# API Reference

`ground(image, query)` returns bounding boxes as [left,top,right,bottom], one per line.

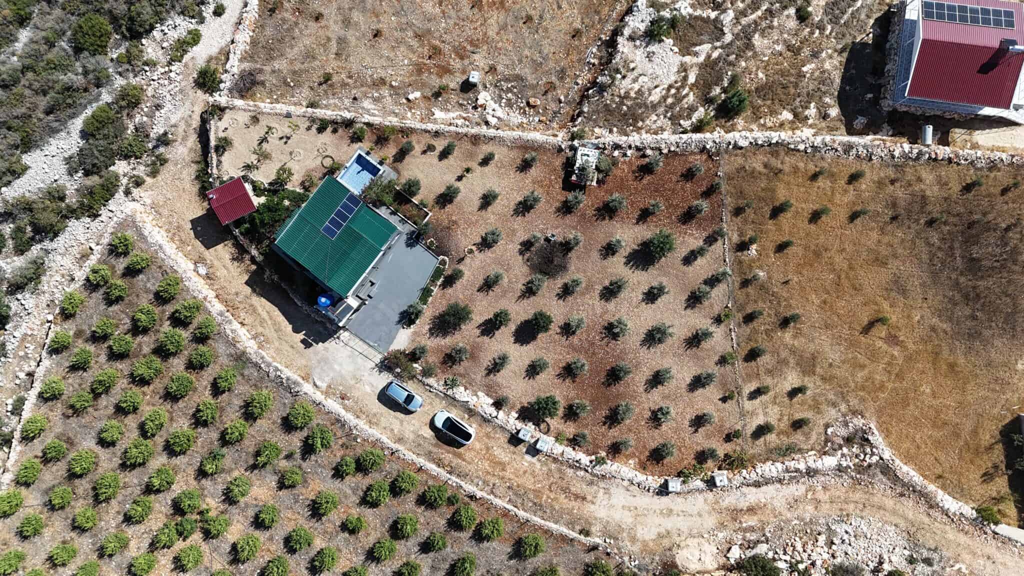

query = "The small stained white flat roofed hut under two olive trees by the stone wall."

[569,142,605,188]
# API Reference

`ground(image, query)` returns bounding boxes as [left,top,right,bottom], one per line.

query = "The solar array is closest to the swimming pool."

[322,192,362,239]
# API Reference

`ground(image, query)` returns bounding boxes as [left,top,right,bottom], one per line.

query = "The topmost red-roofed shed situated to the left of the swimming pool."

[206,177,259,225]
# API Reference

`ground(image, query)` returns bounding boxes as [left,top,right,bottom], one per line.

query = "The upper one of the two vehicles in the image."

[383,380,424,412]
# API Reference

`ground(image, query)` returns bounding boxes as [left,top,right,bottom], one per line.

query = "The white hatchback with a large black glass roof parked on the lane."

[433,411,475,447]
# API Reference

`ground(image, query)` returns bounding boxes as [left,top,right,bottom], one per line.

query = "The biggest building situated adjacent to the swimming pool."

[272,174,405,305]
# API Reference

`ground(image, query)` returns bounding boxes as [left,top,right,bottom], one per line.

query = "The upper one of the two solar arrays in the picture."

[923,1,1015,28]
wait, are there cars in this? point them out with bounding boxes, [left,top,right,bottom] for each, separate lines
[433,411,475,447]
[383,380,424,412]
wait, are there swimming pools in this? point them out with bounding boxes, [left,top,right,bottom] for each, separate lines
[336,150,384,197]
